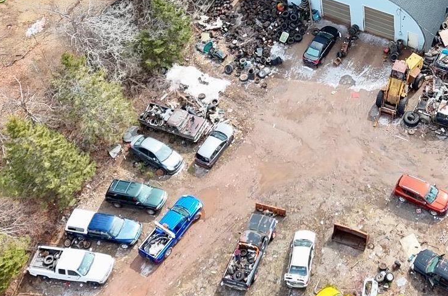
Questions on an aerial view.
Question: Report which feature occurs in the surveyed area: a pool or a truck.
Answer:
truck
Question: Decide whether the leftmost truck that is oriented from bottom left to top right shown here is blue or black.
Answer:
blue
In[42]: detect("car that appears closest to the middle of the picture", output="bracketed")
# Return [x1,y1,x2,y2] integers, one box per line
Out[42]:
[192,122,239,172]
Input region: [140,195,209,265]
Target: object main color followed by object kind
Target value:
blue truck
